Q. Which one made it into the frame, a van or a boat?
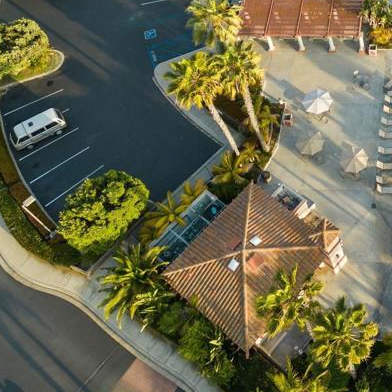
van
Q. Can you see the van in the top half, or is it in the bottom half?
top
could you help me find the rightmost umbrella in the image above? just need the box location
[339,147,369,174]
